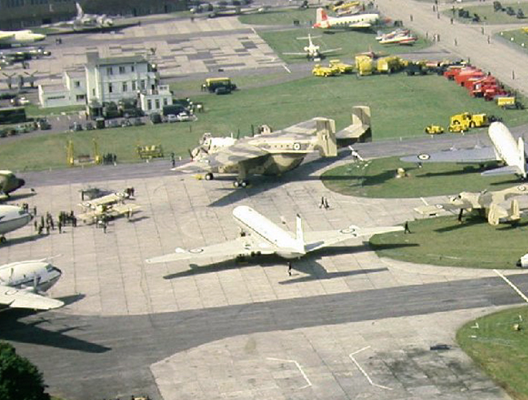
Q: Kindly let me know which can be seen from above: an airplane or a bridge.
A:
airplane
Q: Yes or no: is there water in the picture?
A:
No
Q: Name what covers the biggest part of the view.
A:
paved ground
